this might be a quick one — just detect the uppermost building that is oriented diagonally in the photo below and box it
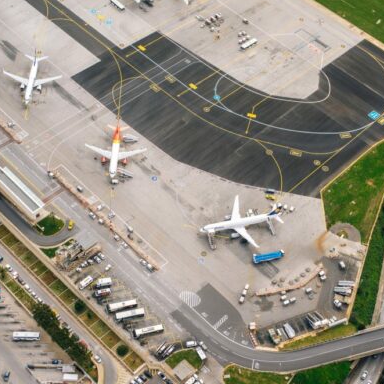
[0,167,46,223]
